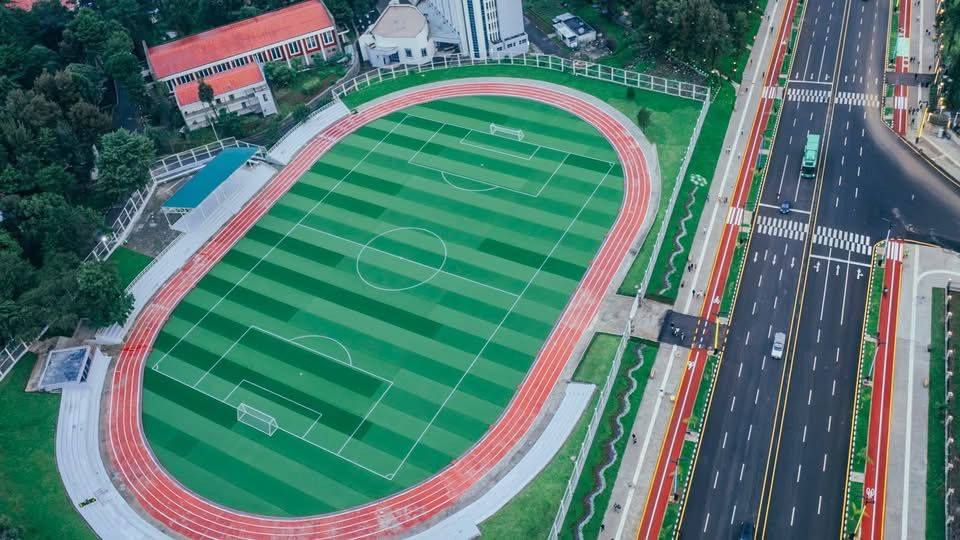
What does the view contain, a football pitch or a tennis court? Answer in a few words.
football pitch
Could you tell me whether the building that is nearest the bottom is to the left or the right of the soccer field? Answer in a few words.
to the left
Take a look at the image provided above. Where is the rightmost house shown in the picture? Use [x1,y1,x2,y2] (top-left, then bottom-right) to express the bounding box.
[548,11,596,52]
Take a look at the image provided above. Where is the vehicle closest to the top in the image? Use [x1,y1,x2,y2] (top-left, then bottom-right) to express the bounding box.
[799,134,819,179]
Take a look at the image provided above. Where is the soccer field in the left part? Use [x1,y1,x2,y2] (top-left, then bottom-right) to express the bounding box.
[142,97,622,515]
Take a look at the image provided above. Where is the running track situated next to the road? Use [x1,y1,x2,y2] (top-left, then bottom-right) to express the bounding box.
[103,82,652,540]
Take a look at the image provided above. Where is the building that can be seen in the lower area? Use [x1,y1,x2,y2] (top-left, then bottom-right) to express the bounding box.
[38,346,92,392]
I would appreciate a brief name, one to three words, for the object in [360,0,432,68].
building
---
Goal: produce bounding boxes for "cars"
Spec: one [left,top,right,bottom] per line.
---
[772,329,788,357]
[781,199,791,213]
[737,522,753,540]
